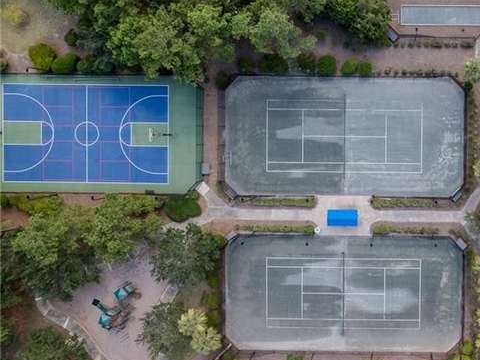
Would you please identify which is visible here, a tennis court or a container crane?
tennis court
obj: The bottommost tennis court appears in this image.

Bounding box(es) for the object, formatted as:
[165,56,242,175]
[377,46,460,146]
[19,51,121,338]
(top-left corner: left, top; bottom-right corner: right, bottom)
[224,234,465,353]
